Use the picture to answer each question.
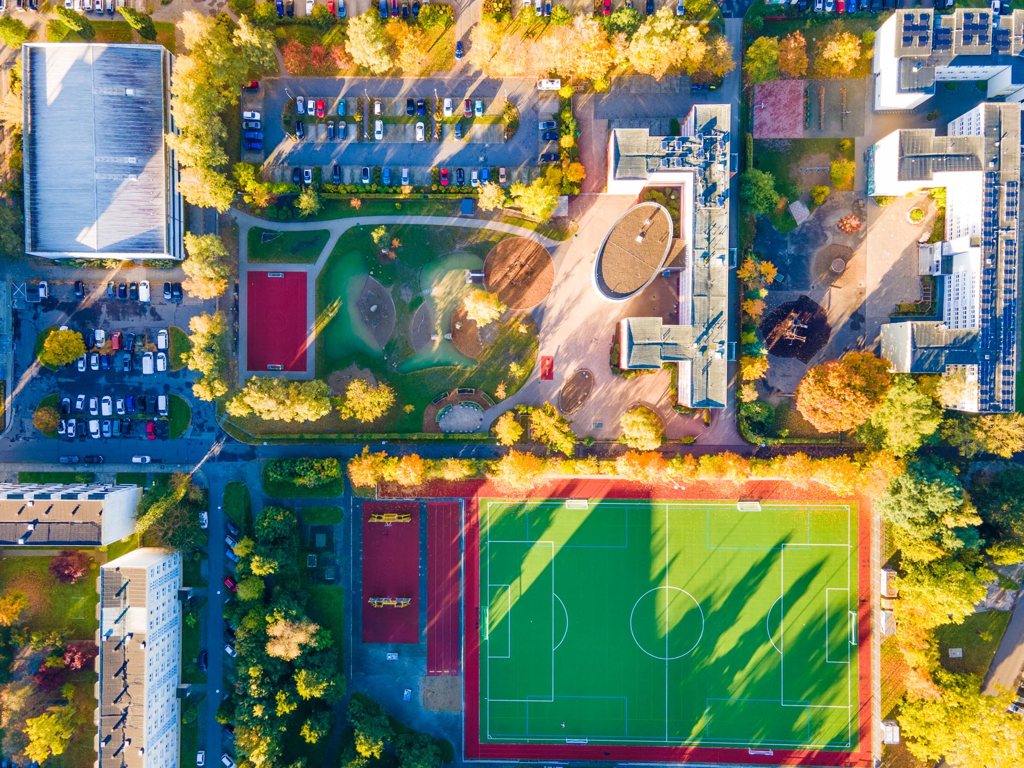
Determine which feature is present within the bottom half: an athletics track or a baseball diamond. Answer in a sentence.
What appears within the bottom half is an athletics track.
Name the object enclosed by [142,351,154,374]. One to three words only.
vehicle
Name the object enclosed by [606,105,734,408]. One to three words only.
building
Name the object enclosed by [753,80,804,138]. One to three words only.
sports court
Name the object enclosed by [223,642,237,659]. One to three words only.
car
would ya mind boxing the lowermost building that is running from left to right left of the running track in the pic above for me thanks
[0,482,142,545]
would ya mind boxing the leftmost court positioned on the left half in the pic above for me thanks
[247,272,308,371]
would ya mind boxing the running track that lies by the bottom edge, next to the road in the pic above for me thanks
[377,478,873,765]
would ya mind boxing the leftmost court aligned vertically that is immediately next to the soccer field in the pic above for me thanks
[363,502,419,643]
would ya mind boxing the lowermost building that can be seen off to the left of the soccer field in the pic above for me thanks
[97,549,191,768]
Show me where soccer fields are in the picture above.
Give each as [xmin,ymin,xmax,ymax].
[479,499,859,752]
